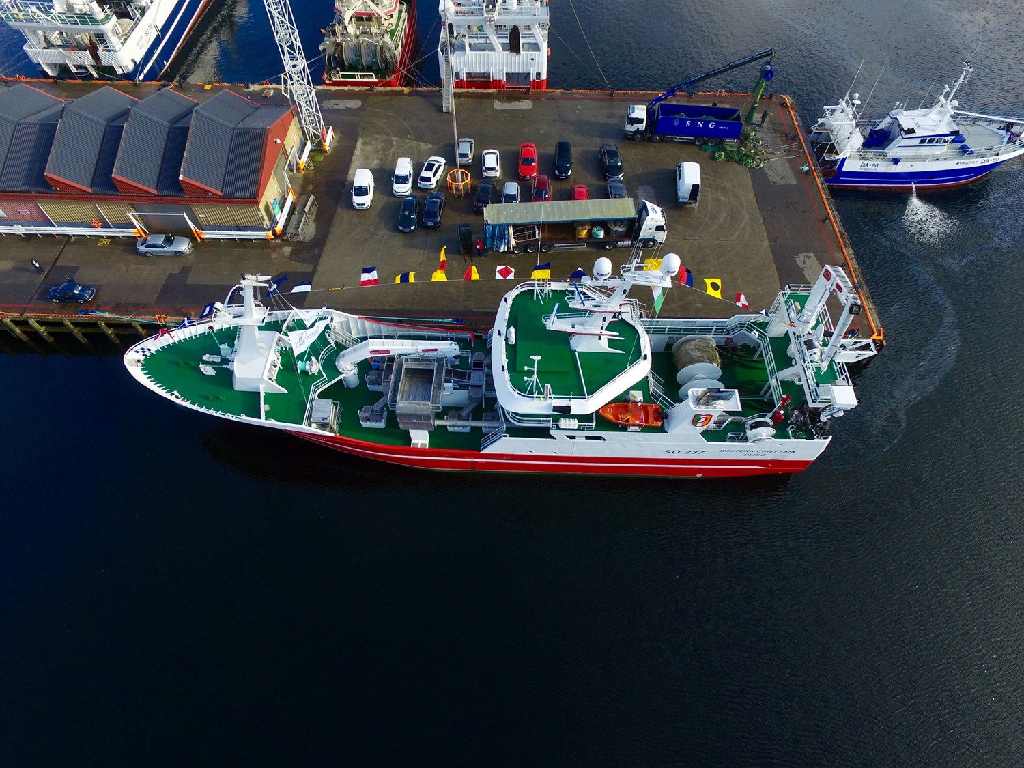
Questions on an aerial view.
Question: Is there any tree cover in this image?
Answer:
No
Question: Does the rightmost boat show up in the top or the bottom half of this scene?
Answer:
top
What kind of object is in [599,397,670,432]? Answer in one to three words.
boat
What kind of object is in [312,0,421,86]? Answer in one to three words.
boat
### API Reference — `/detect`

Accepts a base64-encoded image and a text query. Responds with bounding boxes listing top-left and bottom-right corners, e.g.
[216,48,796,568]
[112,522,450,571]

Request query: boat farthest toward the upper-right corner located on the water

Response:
[805,44,1024,189]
